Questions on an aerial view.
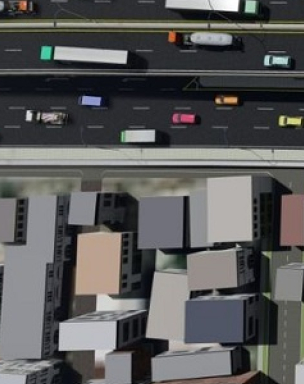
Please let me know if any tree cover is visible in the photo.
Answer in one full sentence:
No, there's no tree cover in this view.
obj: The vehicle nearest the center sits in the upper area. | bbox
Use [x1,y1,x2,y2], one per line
[121,129,162,144]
